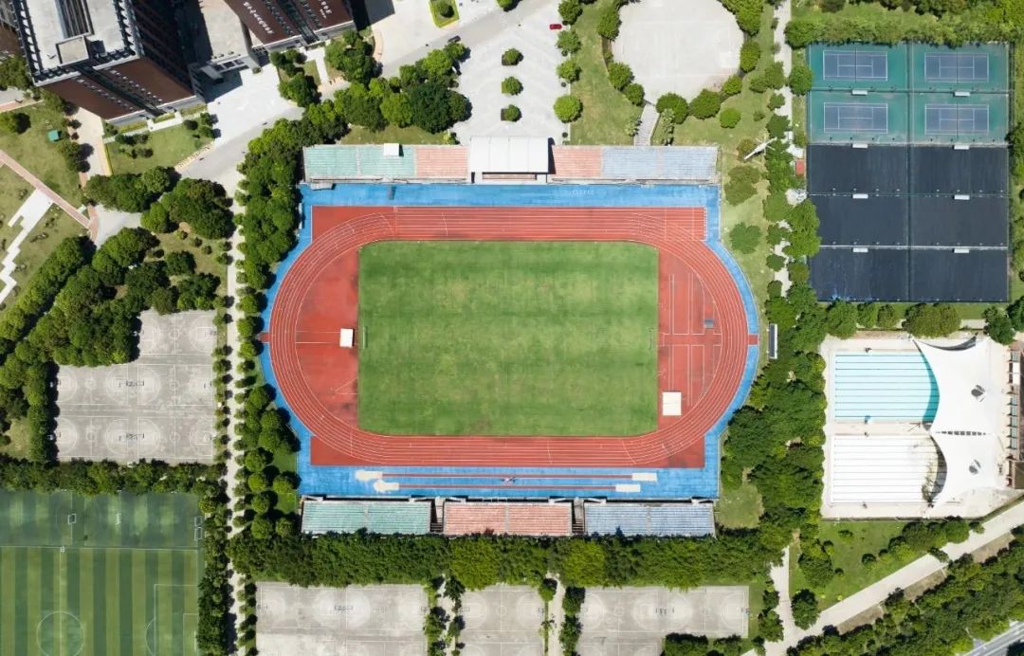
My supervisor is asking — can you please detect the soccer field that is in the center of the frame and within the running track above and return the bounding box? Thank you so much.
[358,241,658,436]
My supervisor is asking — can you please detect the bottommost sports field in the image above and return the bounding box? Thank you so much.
[0,544,203,656]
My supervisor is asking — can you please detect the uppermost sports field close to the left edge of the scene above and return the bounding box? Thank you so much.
[0,491,203,546]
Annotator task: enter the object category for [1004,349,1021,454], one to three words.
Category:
building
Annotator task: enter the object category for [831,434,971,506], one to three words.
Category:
swimming pool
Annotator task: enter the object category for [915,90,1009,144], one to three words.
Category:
tennis court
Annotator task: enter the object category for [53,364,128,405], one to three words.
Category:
basketball court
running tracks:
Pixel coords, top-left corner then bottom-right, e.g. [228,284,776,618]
[260,185,759,499]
